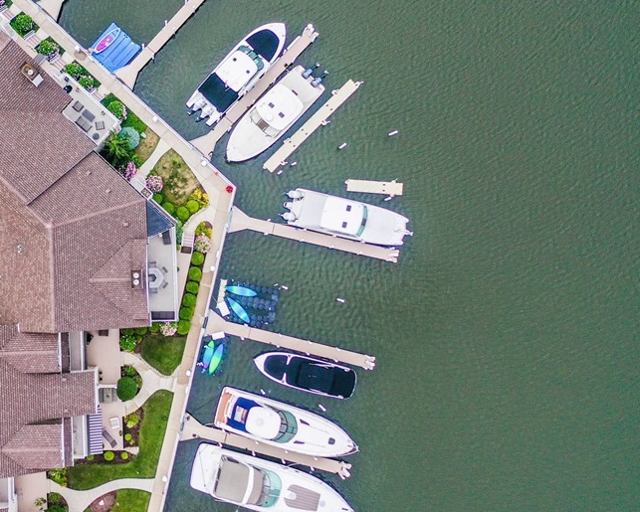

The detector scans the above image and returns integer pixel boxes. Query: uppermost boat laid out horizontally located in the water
[271,188,419,243]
